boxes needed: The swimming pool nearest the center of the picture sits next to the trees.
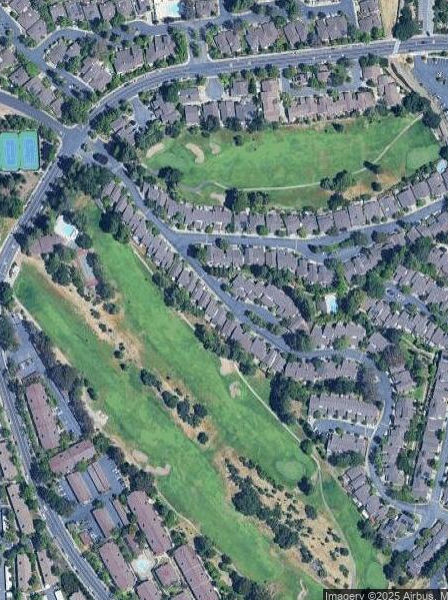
[325,294,340,315]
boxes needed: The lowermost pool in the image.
[130,551,156,579]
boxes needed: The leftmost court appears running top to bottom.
[0,132,19,172]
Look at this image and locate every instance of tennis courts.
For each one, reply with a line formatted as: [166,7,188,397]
[0,132,19,172]
[20,131,39,170]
